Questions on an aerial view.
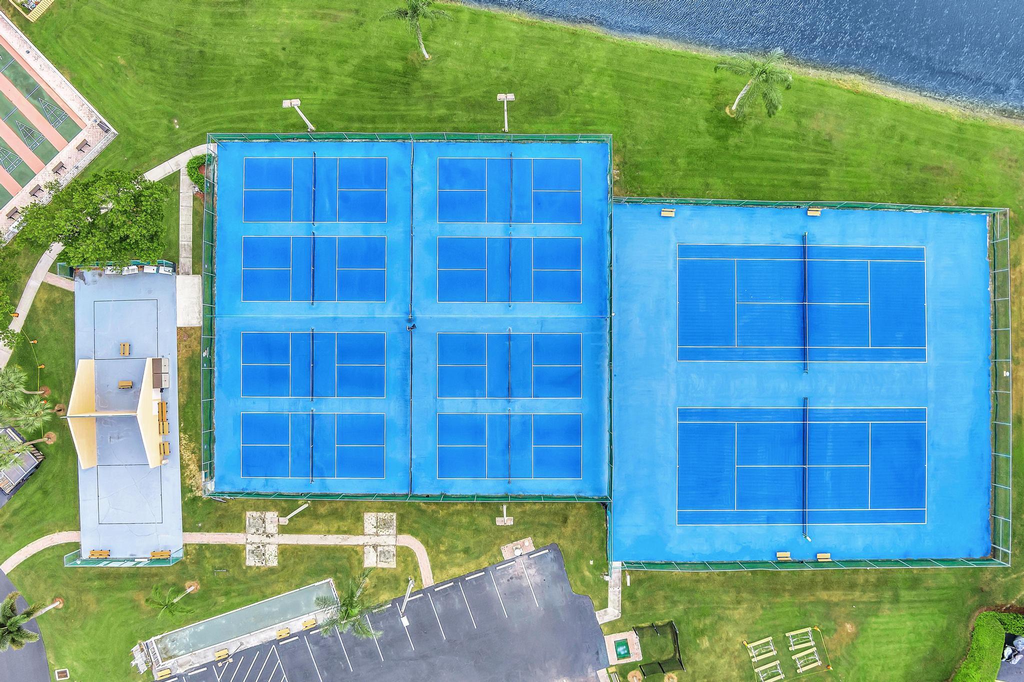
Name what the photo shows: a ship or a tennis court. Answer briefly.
tennis court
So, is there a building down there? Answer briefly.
No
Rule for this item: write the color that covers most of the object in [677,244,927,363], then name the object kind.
blue tennis court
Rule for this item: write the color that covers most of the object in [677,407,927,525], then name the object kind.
blue tennis court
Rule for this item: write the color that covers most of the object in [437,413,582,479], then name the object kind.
blue sports court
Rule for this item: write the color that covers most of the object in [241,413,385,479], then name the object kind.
blue sports court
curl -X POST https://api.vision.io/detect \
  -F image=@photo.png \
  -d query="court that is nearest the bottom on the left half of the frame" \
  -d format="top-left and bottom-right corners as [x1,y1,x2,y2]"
[151,579,340,666]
